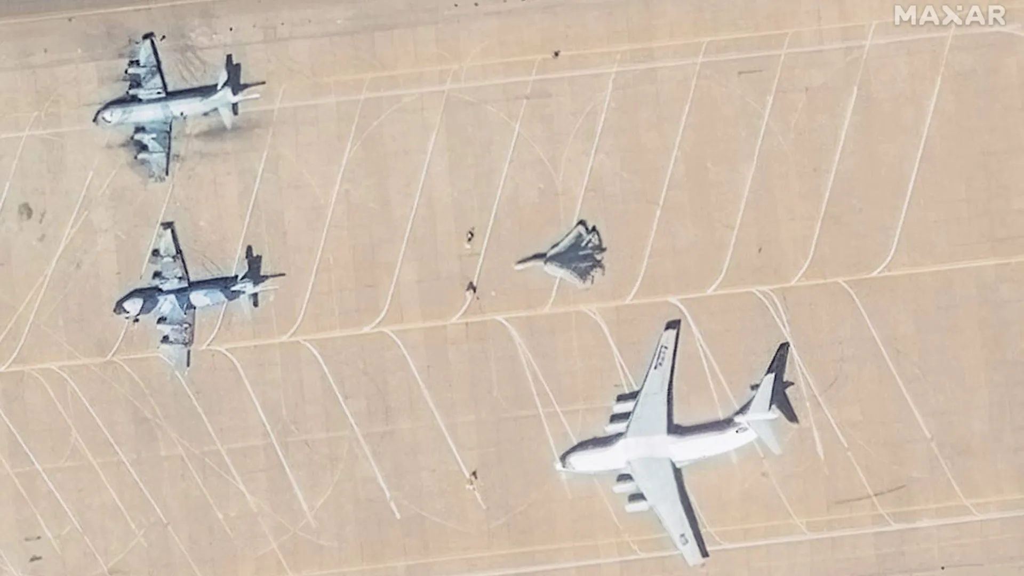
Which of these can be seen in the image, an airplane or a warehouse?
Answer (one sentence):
Of the two, only an airplane appears.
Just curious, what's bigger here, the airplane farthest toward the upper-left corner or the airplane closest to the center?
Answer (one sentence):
Of the two, the airplane farthest toward the upper-left corner is larger and the airplane closest to the center is the smaller one.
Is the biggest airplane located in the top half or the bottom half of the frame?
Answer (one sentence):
The bottom half of the photo is where the biggest airplane is.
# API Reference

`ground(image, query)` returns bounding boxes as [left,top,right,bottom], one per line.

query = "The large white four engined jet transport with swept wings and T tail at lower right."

[554,328,785,565]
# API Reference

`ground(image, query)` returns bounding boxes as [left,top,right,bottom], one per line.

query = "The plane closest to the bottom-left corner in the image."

[118,231,282,374]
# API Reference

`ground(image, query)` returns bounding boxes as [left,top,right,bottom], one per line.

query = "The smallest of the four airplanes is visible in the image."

[514,226,603,286]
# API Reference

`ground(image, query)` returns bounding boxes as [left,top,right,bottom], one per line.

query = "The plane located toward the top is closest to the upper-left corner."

[97,39,261,182]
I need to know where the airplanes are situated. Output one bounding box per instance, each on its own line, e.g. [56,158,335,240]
[118,231,282,374]
[97,39,261,182]
[554,328,785,565]
[514,226,603,286]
